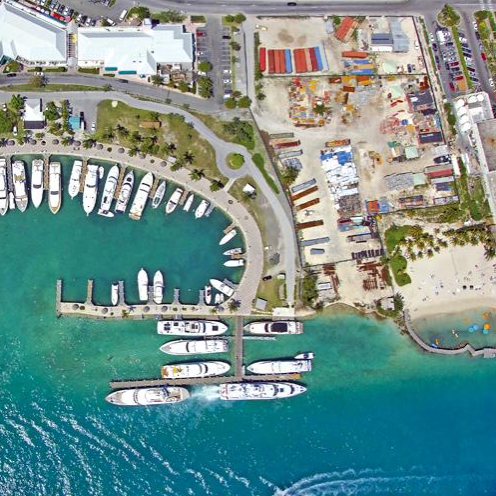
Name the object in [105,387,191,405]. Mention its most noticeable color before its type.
white boat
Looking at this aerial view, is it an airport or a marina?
marina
